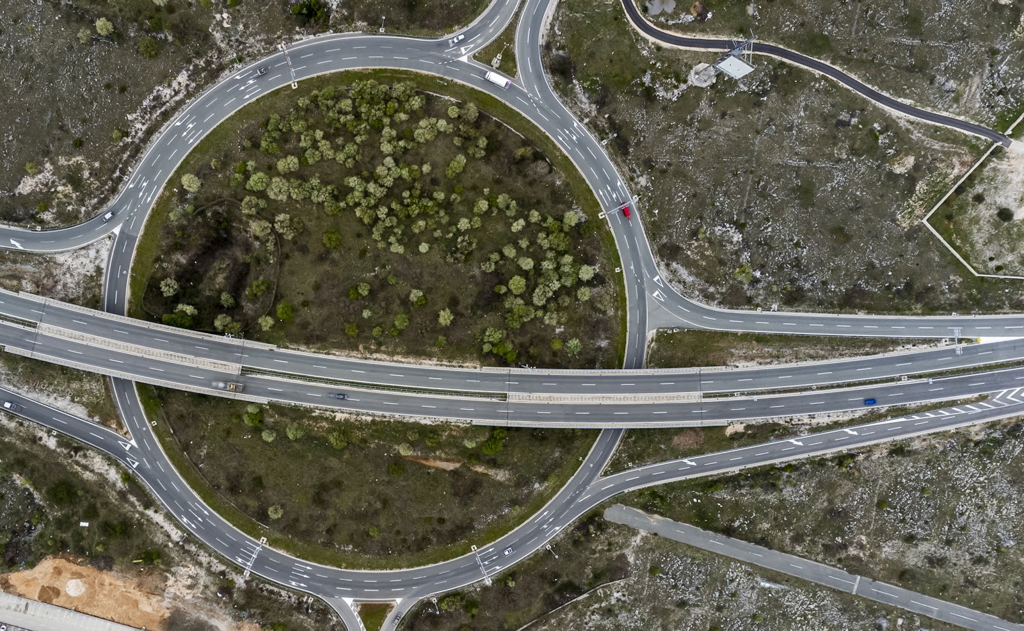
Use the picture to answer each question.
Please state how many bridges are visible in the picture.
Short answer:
2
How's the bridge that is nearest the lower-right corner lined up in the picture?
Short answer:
from side to side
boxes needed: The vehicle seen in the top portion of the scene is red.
[619,202,631,221]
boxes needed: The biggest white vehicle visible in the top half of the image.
[483,72,511,91]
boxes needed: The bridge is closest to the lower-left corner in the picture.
[4,290,276,404]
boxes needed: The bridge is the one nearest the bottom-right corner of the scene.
[472,365,728,429]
